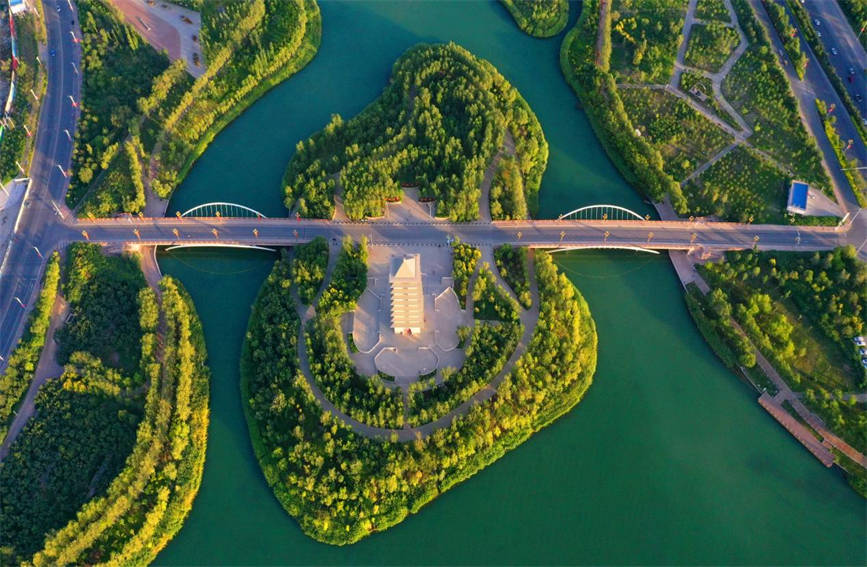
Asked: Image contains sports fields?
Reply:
No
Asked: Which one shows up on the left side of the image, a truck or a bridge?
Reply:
bridge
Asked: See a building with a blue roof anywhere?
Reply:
Yes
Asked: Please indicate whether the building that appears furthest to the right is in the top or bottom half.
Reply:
top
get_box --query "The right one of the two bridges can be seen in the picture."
[494,205,763,254]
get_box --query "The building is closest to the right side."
[785,179,809,215]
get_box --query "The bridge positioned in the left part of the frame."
[73,203,334,251]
